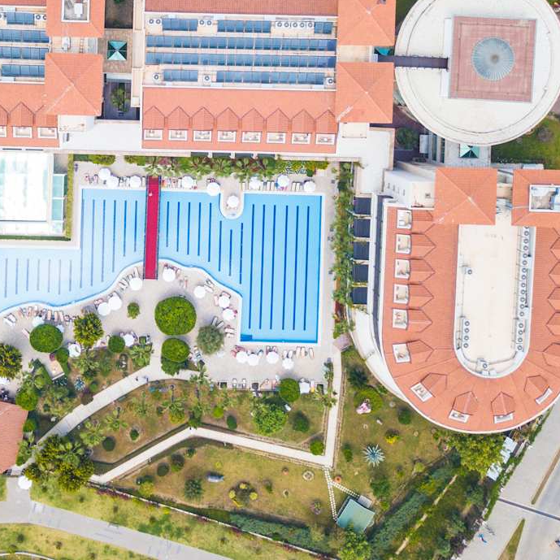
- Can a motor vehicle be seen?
No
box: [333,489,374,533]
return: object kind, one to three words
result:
shed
